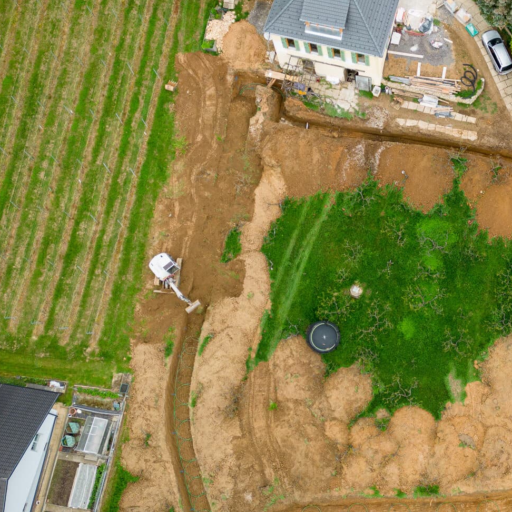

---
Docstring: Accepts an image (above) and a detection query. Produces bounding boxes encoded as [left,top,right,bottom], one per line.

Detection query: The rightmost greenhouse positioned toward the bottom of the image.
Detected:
[74,417,107,454]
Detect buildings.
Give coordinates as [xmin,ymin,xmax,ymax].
[259,0,399,88]
[0,381,63,512]
[74,417,107,454]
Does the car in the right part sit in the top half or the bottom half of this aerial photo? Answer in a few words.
top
